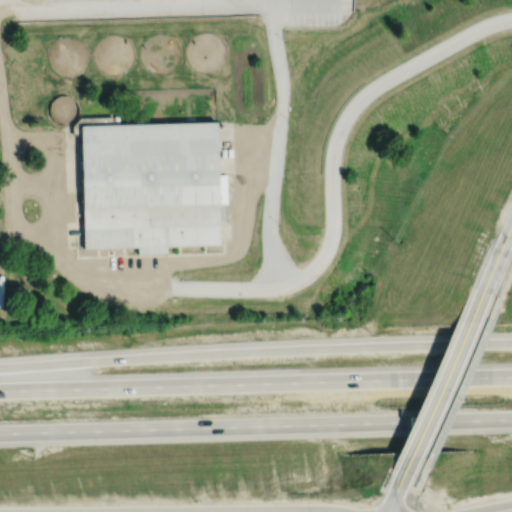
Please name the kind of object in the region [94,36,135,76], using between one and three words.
storage tank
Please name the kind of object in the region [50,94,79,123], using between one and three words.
storage tank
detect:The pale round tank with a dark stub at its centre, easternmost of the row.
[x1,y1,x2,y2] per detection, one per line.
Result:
[187,34,226,73]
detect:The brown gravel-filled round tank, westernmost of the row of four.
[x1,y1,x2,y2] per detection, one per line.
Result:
[48,37,90,78]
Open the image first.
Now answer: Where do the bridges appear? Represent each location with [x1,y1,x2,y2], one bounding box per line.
[383,201,512,490]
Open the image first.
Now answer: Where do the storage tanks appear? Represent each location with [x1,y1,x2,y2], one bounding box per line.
[187,34,226,73]
[48,37,90,78]
[50,94,79,123]
[94,36,135,76]
[141,35,180,74]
